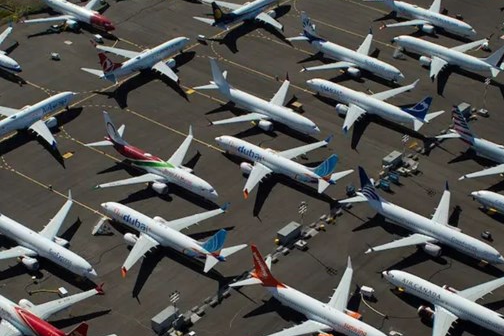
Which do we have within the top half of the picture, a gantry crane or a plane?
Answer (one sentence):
It is a plane that can be seen within the top half of the picture.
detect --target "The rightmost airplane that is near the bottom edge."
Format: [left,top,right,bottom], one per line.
[384,270,504,336]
